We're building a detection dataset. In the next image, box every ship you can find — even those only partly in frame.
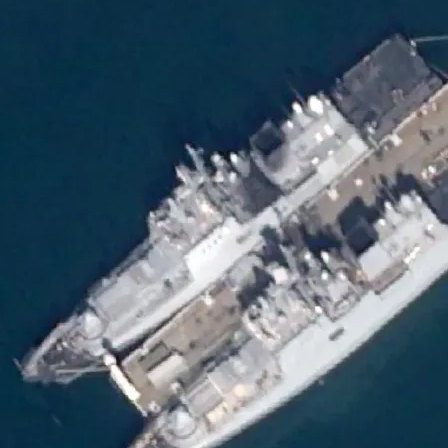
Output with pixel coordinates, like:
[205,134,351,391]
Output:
[15,39,445,388]
[125,170,448,448]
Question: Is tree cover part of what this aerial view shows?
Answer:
No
